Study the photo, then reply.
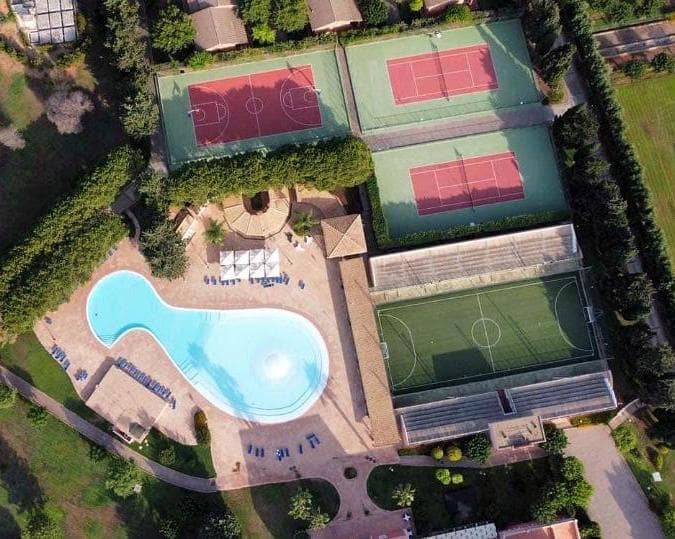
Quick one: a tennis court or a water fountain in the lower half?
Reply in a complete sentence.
Looking in the lower half, you will find a water fountain.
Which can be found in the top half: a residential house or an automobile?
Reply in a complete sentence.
What appears in the top half is a residential house.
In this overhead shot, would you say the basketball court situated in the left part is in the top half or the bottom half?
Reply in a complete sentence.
You can find the basketball court situated in the left part in the top half.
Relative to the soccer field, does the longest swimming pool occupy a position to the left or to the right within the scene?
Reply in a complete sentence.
Relative to the soccer field, the longest swimming pool lies to the left.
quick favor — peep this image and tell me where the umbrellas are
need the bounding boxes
[265,249,279,264]
[235,265,250,279]
[221,266,235,280]
[220,251,235,266]
[250,264,265,279]
[266,264,280,278]
[250,250,264,264]
[235,250,250,265]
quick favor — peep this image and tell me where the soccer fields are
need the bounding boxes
[373,270,601,397]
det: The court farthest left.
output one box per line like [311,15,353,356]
[156,49,351,167]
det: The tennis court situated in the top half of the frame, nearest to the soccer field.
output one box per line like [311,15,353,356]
[372,121,571,247]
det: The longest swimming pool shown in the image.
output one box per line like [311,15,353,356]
[85,269,331,426]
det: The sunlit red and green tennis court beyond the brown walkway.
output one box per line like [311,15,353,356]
[345,18,543,133]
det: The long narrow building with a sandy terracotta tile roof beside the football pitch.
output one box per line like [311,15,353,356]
[339,256,399,446]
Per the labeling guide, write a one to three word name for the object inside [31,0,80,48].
building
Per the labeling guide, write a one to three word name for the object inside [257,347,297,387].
fountain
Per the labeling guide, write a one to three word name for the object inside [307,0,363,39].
house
